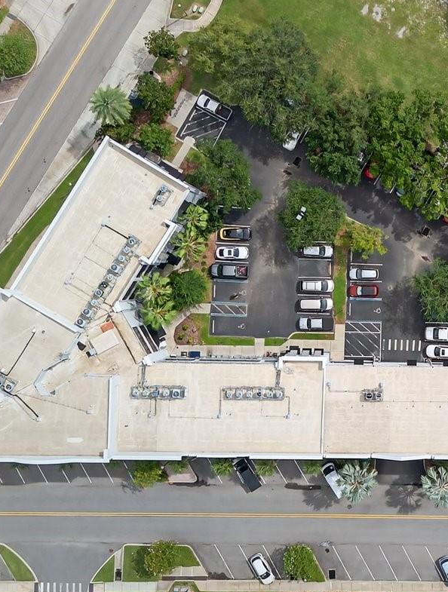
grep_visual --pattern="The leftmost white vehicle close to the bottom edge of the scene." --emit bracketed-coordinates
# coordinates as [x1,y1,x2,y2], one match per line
[250,551,275,584]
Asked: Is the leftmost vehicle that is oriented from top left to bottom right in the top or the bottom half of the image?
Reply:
top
